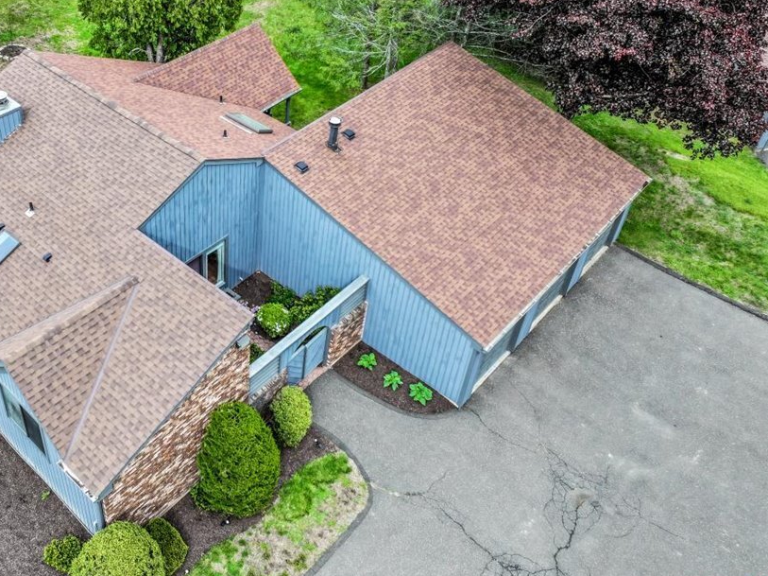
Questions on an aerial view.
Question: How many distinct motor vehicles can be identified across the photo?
zero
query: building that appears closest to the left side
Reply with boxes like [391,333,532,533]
[0,21,307,536]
